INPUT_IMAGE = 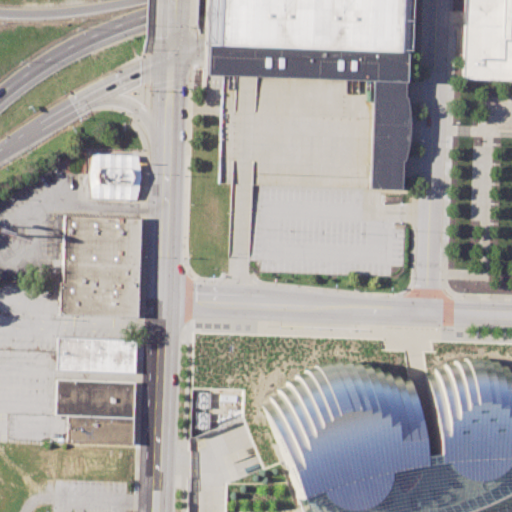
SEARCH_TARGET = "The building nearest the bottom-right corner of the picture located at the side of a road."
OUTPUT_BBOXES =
[264,358,512,512]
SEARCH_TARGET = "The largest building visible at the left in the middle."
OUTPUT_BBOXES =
[61,216,141,318]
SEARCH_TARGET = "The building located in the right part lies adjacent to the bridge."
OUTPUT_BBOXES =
[202,0,415,190]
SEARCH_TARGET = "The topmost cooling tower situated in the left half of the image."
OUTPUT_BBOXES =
[196,392,210,409]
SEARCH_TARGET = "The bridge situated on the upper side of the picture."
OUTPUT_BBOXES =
[144,0,200,57]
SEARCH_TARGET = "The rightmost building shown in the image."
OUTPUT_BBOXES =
[462,0,512,82]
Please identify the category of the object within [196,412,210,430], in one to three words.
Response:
cooling tower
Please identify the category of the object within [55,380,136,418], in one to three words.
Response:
building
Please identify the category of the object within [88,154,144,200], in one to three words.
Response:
building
